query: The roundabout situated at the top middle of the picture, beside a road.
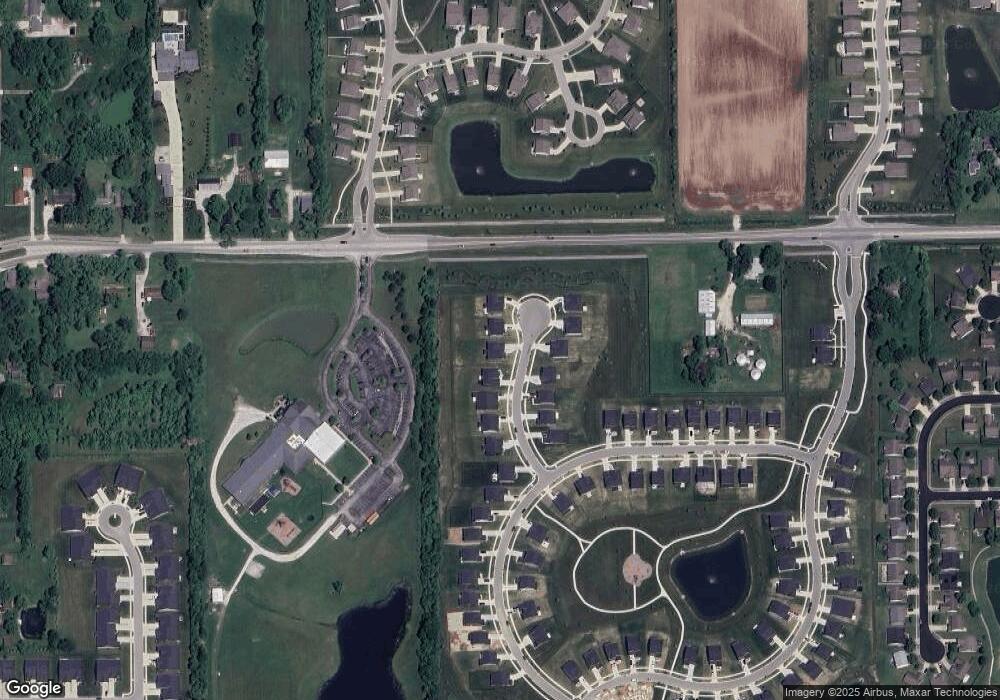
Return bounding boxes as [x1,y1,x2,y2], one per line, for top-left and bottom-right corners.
[565,105,604,147]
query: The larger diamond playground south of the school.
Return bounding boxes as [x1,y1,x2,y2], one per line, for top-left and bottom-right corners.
[268,514,302,546]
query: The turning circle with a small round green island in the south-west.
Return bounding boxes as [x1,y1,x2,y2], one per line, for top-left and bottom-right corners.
[99,503,132,536]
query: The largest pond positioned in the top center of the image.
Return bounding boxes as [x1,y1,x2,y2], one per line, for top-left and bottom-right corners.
[450,121,655,196]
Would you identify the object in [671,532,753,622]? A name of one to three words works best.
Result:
pond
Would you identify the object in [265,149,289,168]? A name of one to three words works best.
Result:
barn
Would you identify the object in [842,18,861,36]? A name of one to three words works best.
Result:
house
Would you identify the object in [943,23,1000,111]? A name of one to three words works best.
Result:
pond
